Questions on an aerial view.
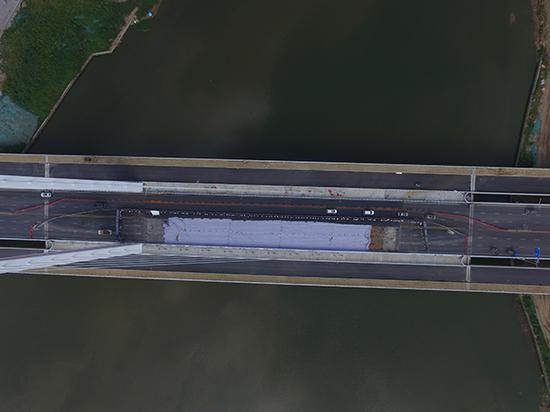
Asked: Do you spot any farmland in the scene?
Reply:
No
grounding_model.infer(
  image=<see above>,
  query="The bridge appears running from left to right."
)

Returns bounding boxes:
[0,153,550,294]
